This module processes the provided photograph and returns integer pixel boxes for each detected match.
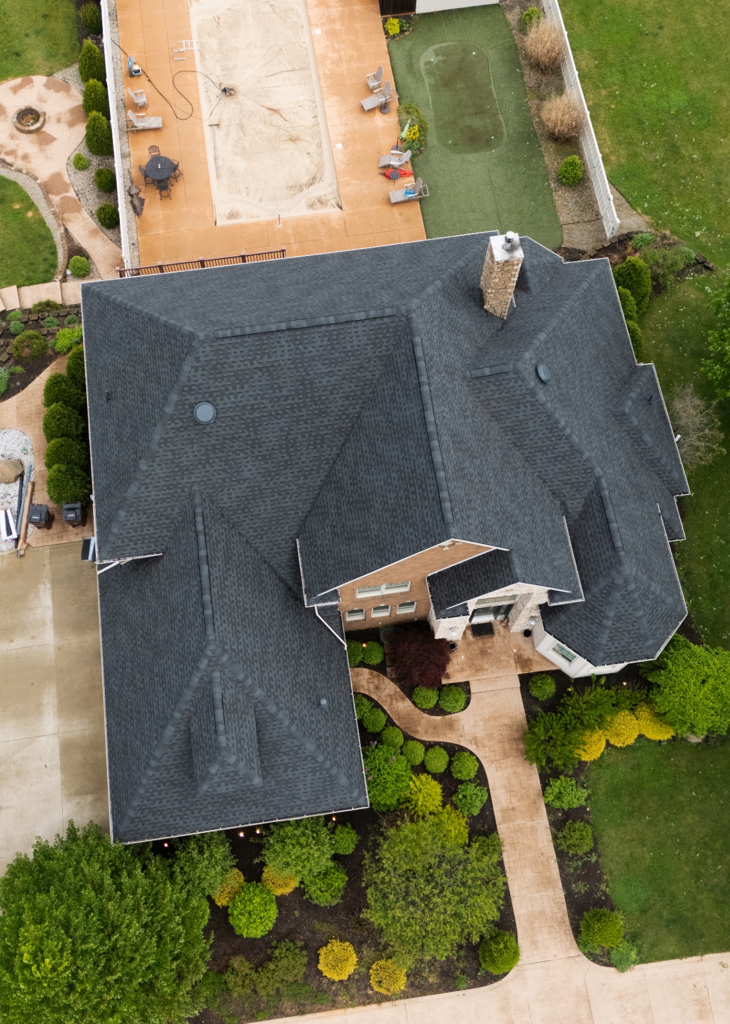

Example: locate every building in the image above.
[77,229,693,846]
[379,0,499,17]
